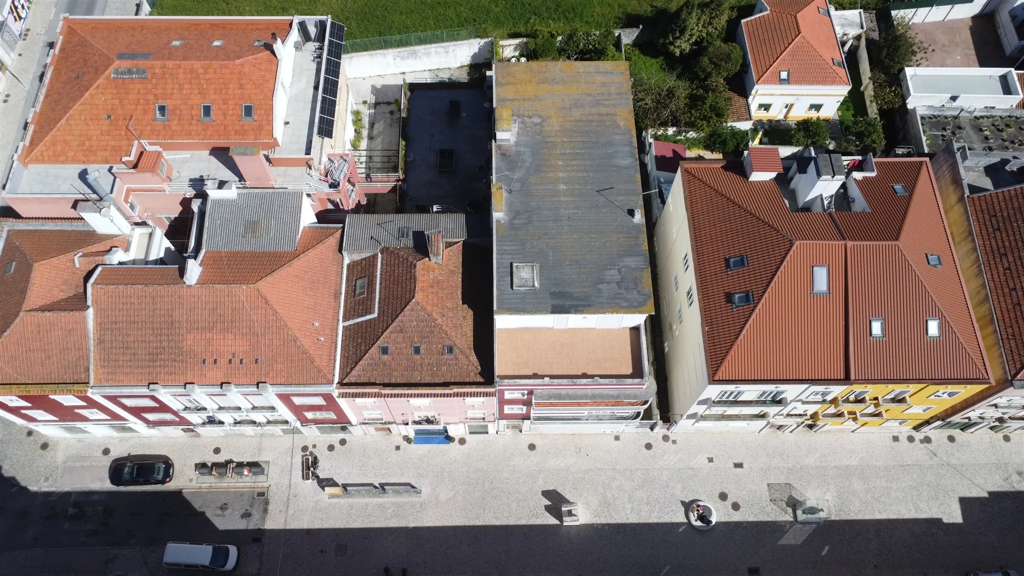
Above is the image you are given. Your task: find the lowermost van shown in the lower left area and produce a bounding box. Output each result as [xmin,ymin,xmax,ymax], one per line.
[153,539,239,576]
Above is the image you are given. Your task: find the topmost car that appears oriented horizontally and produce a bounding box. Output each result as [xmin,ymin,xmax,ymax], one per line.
[103,455,173,488]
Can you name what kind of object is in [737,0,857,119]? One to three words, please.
house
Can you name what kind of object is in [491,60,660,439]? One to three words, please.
building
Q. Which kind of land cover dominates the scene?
buildings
